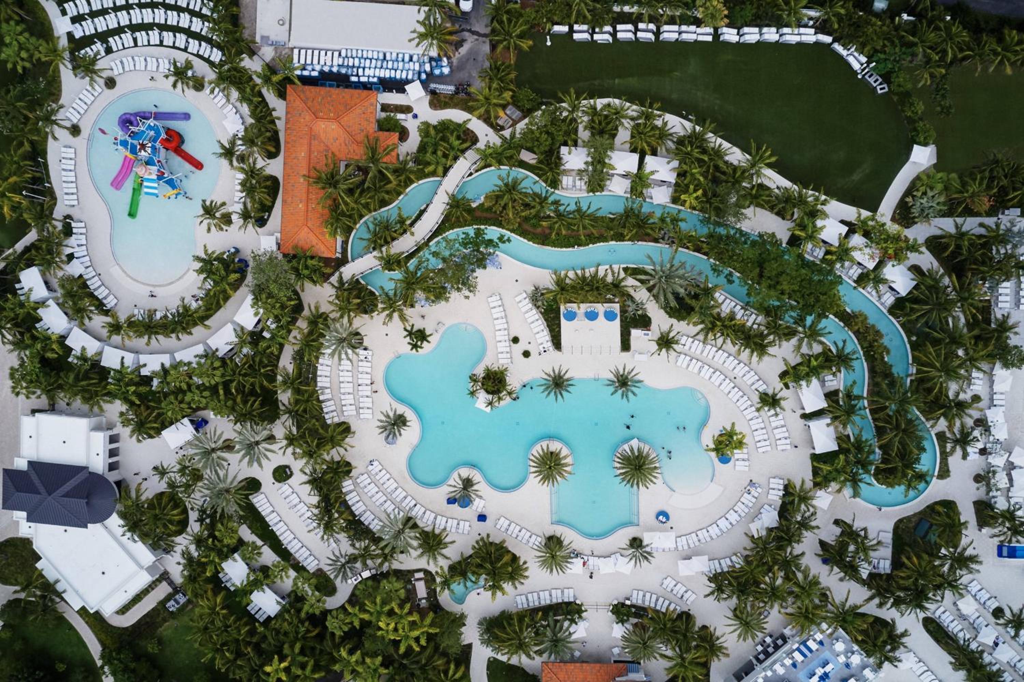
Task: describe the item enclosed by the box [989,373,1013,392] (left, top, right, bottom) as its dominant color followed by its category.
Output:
white umbrella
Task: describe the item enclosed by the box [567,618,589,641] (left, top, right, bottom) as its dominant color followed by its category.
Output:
white umbrella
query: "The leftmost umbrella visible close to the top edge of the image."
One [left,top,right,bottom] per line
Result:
[55,16,75,34]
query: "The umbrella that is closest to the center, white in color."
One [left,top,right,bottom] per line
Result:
[473,391,494,413]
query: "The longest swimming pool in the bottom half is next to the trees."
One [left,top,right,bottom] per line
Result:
[385,324,713,539]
